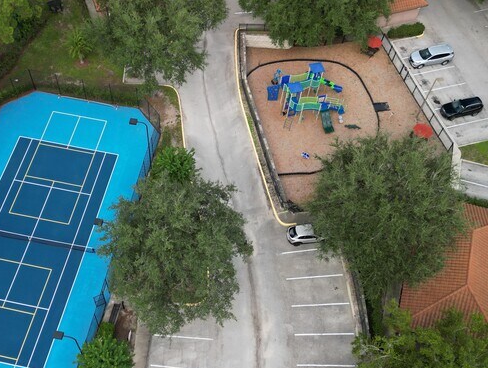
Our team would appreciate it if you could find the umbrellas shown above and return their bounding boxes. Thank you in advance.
[364,39,381,60]
[412,126,432,141]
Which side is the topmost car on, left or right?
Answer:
right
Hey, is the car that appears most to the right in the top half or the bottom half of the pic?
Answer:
top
